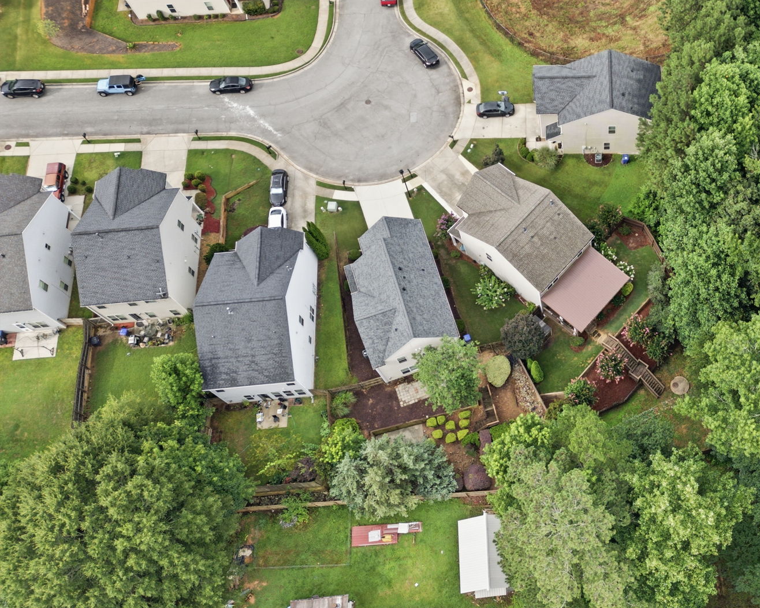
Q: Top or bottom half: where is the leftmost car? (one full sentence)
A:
The top half of the photo is where the leftmost car is.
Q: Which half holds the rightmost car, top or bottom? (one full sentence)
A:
You can find the rightmost car in the top half.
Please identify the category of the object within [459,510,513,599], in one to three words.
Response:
shed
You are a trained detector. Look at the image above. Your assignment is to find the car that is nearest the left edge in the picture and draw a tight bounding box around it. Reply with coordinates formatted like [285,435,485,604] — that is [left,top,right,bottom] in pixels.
[0,75,43,97]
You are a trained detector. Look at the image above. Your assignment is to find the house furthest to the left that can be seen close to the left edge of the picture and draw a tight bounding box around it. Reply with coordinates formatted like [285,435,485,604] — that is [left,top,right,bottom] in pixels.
[0,170,83,335]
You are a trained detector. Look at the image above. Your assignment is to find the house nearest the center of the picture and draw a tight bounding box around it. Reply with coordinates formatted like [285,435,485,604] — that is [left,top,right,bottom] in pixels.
[343,212,459,384]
